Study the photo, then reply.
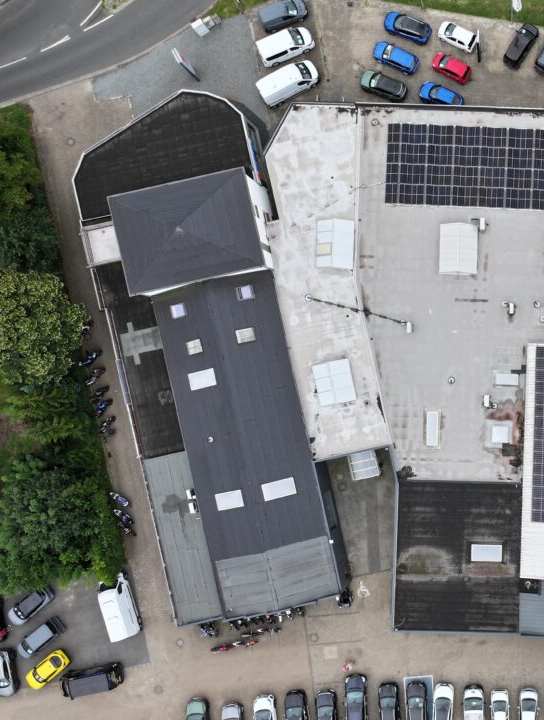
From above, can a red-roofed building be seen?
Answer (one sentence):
No, I can't see a single red-roofed building in this photo.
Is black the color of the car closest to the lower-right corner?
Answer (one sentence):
No, the car closest to the lower-right corner is white.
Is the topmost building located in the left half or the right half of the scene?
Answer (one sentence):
The topmost building sits on the left side.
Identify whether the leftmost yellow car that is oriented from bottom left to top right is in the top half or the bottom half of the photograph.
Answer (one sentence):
The leftmost yellow car that is oriented from bottom left to top right is in the bottom half of the image.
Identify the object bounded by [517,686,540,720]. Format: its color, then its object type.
white car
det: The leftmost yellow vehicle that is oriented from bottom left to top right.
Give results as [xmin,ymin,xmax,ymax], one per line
[28,648,73,688]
